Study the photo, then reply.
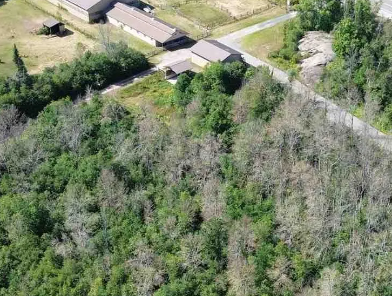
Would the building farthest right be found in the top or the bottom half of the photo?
top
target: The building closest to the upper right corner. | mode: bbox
[190,38,243,70]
